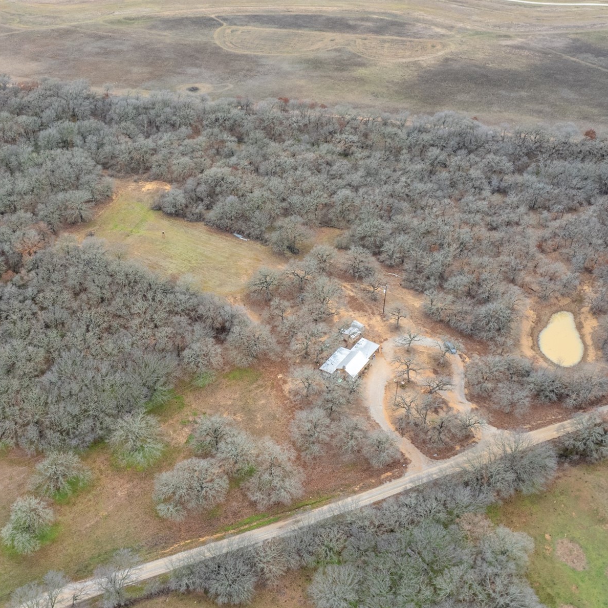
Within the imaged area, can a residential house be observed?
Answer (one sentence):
Yes, the image includes a residential house.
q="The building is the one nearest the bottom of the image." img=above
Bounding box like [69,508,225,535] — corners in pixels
[319,338,380,385]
